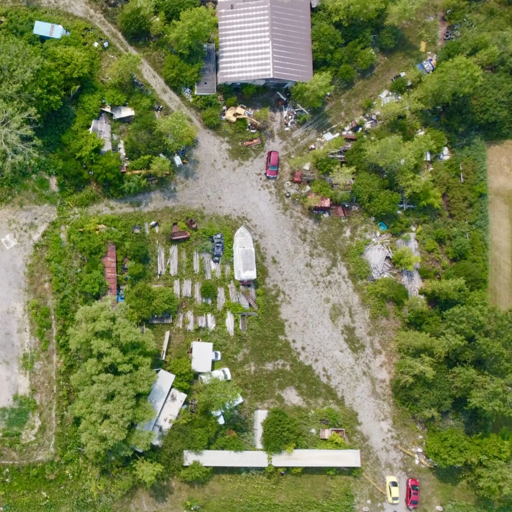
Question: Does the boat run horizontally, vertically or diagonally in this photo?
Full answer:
In this picture, the boat is oriented vertically.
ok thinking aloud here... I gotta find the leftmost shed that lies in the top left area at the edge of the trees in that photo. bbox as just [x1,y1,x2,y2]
[94,109,127,156]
